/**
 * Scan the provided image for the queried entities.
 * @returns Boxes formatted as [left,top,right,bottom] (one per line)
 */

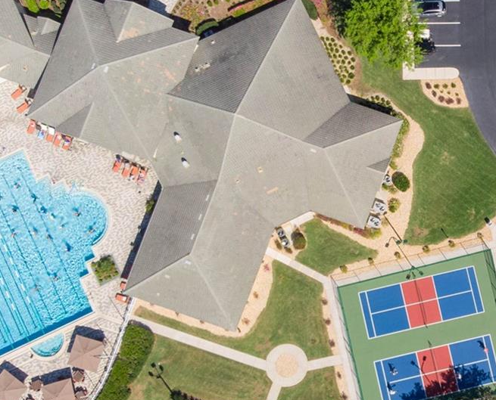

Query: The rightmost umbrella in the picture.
[67,335,104,372]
